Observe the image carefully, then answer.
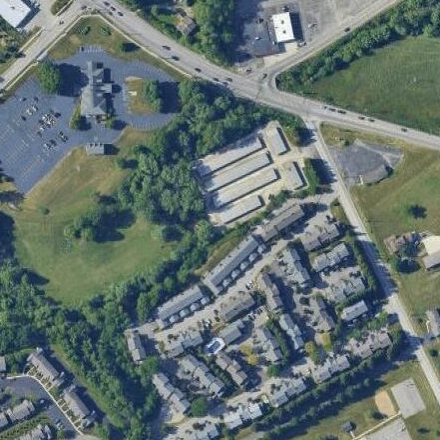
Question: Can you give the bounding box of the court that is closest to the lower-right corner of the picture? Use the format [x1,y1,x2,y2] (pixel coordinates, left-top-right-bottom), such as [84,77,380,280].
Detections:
[391,379,426,418]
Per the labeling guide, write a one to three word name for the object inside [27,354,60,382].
house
